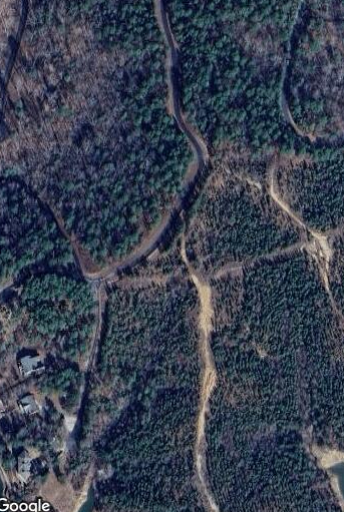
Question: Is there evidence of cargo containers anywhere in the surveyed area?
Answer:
No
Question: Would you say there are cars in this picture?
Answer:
No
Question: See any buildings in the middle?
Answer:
No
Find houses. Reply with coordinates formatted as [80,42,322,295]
[17,353,43,379]
[18,395,38,416]
[14,456,34,485]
